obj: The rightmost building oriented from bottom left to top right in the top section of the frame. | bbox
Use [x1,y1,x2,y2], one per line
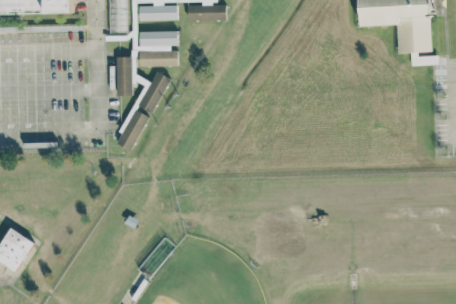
[138,72,172,114]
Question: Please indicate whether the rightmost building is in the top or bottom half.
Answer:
top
